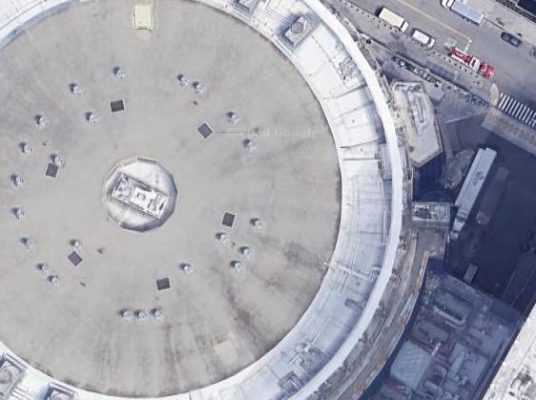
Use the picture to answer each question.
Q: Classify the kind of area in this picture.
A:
sports ground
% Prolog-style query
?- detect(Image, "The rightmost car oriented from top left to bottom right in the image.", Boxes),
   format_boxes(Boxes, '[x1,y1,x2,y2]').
[501,32,521,47]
